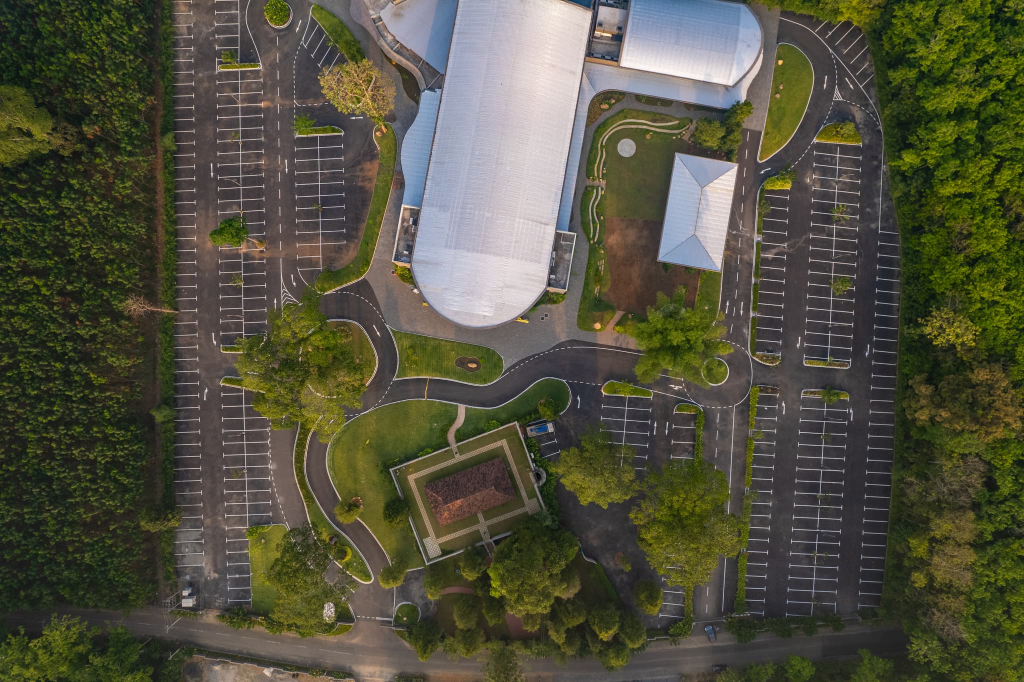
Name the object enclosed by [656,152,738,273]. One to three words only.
building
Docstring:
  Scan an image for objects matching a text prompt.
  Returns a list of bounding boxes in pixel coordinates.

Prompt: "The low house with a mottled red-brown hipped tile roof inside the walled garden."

[424,456,517,528]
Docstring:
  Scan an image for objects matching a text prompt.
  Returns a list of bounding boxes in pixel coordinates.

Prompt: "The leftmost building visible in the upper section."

[362,0,596,330]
